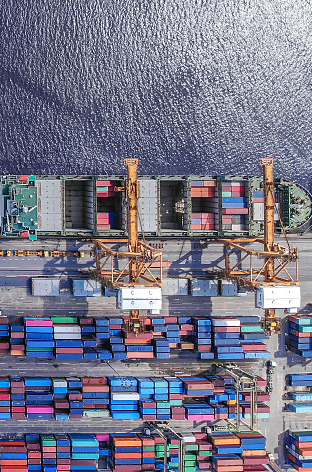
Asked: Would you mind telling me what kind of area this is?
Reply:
port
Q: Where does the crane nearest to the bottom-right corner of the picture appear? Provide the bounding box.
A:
[211,363,259,434]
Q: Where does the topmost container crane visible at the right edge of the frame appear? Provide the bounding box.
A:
[210,154,306,341]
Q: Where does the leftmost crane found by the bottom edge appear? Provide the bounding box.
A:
[144,420,185,472]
